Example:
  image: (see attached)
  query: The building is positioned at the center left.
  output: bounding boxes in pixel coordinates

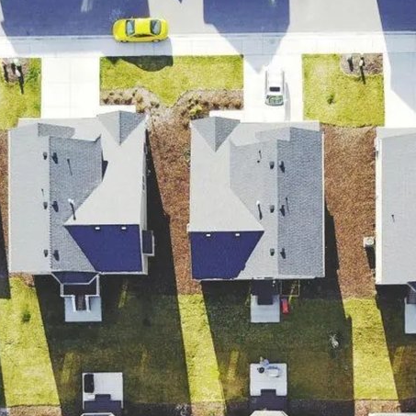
[9,109,154,286]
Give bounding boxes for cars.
[262,66,288,124]
[114,17,169,45]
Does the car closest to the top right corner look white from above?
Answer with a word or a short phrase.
Yes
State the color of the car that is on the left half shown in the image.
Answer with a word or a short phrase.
yellow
